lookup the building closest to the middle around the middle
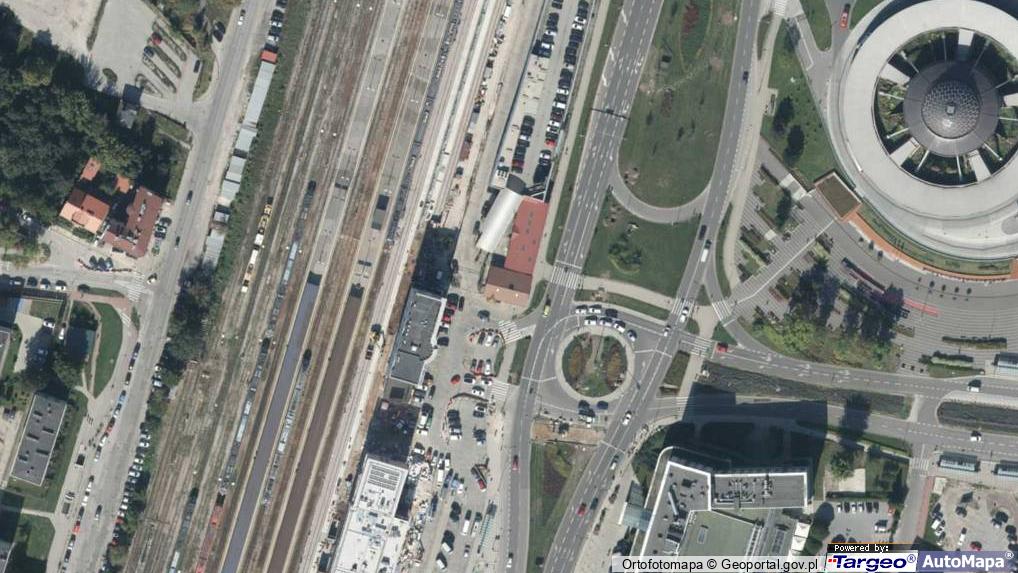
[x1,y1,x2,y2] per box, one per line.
[482,267,533,308]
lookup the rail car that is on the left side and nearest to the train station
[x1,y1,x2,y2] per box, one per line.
[386,201,405,244]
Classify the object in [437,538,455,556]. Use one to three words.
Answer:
vehicle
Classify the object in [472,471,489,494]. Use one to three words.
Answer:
vehicle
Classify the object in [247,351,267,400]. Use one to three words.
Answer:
rail car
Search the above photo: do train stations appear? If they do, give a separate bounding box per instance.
[383,288,446,407]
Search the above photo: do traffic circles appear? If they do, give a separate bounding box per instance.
[557,326,633,404]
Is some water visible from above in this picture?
No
